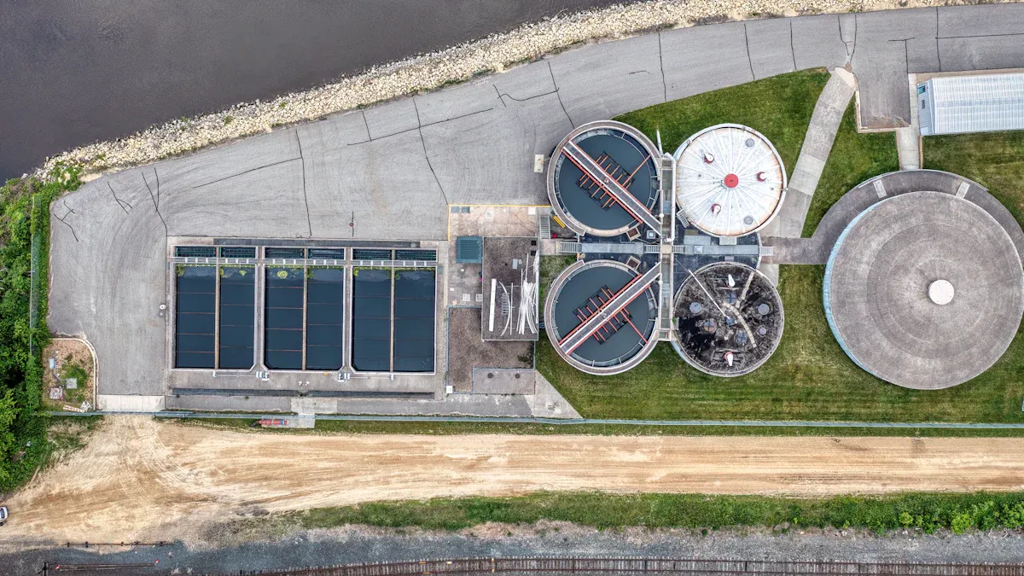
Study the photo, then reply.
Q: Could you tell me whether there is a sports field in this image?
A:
No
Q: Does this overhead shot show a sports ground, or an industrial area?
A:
industrial area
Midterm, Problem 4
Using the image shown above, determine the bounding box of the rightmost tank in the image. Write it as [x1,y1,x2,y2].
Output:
[823,191,1024,389]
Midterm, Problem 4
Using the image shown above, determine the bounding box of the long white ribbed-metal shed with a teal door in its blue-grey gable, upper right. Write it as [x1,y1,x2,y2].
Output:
[917,72,1024,135]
